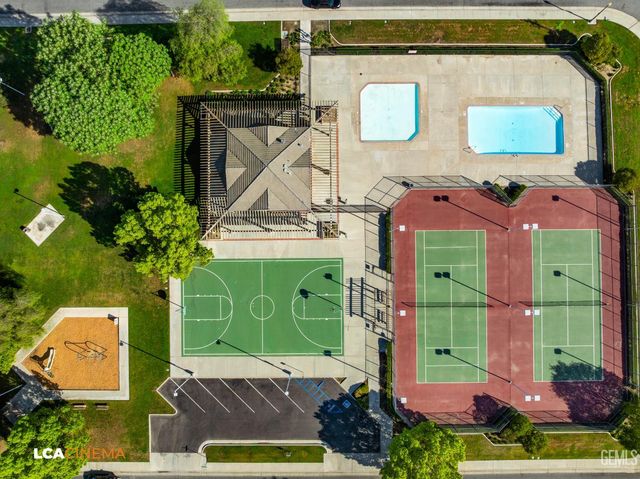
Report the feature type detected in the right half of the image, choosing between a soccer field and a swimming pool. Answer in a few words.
swimming pool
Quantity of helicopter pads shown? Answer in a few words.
0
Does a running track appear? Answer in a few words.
No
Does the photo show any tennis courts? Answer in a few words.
Yes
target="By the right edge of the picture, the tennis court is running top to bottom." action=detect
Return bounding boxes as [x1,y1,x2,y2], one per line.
[509,187,625,425]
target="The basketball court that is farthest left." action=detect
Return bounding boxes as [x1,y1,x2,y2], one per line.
[182,258,343,356]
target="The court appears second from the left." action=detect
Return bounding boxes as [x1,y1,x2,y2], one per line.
[392,188,511,426]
